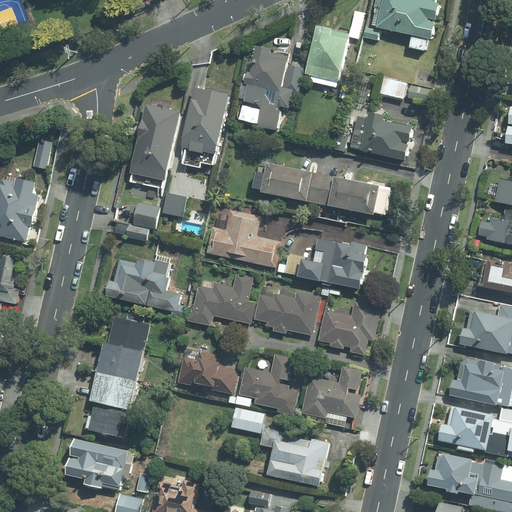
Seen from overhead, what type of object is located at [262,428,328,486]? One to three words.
house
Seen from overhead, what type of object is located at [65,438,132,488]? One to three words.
house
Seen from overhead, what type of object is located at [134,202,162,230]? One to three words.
building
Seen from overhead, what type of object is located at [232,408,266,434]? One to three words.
shed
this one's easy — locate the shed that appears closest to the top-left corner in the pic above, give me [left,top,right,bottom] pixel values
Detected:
[32,141,52,169]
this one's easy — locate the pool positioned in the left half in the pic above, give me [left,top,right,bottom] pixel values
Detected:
[179,220,204,236]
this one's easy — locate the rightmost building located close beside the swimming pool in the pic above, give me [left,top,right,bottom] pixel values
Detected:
[206,209,282,268]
